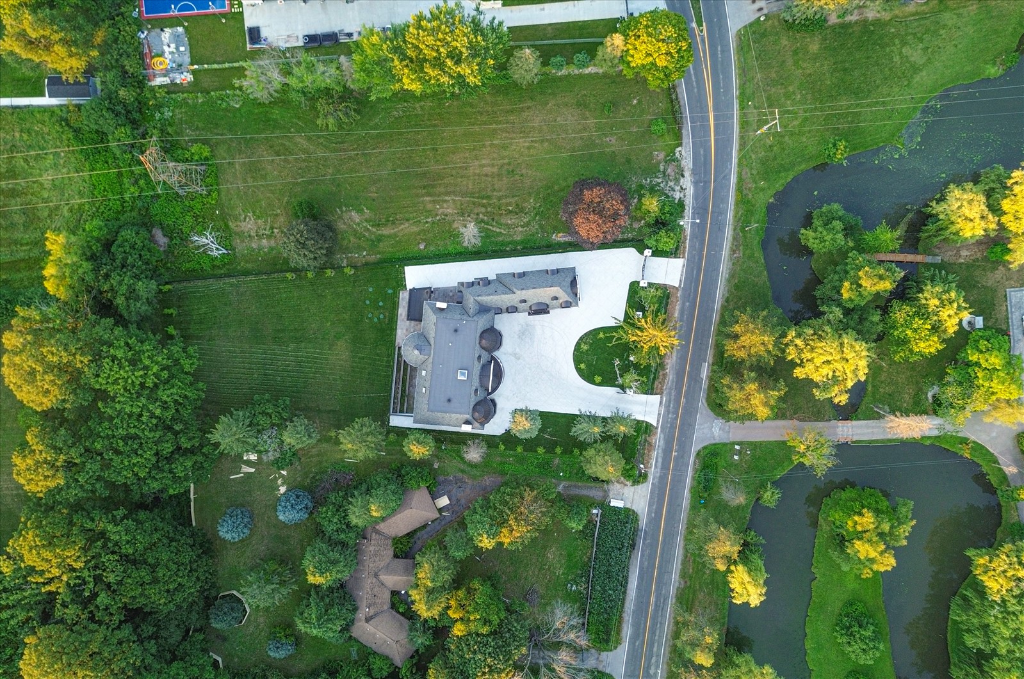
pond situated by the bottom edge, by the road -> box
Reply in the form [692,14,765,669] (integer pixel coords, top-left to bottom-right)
[725,441,998,679]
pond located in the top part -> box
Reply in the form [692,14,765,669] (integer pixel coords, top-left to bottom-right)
[764,48,1024,418]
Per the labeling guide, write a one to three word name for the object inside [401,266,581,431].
house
